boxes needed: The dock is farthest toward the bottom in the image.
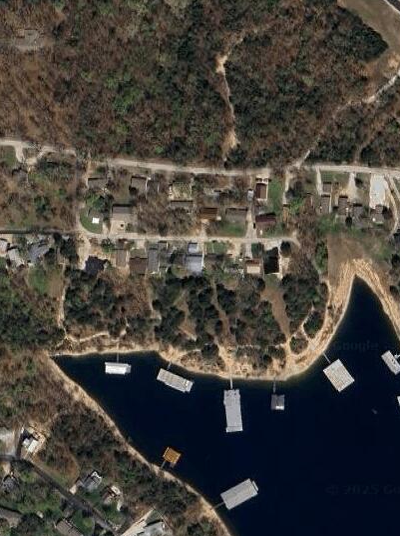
[213,478,258,508]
